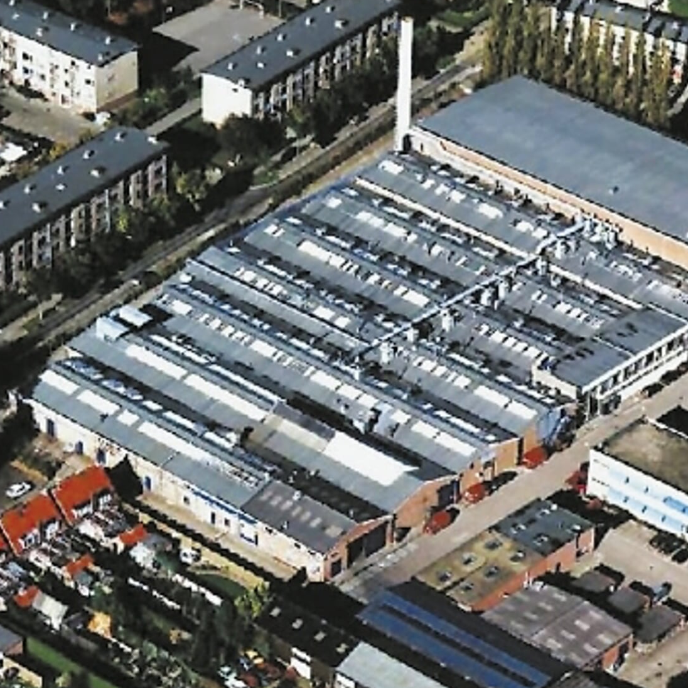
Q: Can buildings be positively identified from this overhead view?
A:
Yes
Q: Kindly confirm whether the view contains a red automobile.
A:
Yes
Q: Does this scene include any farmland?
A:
No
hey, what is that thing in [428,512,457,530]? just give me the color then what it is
red car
